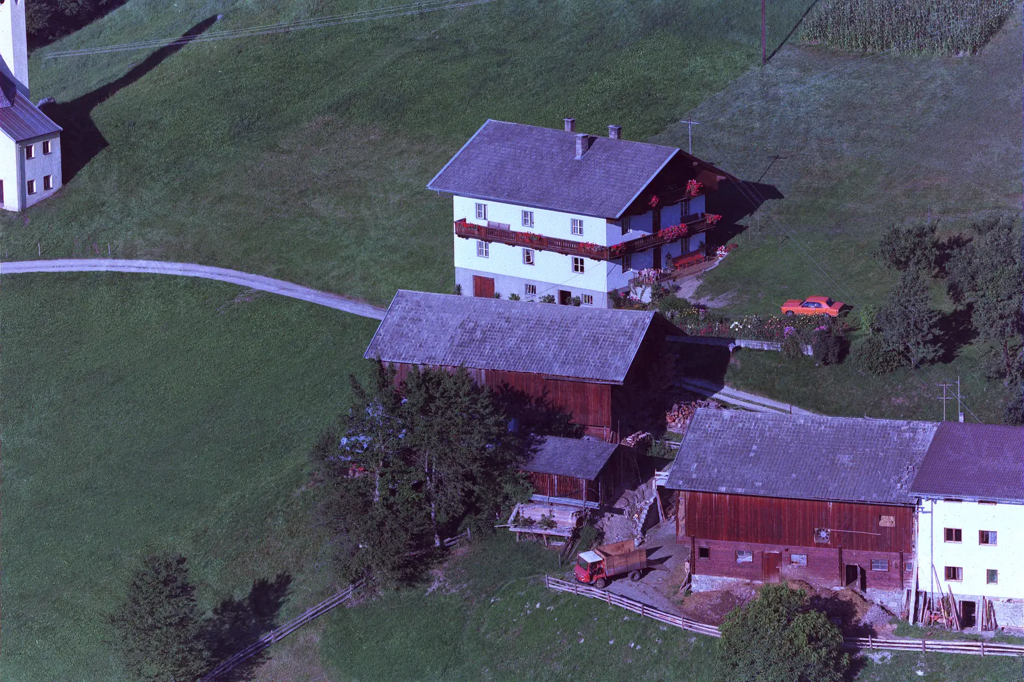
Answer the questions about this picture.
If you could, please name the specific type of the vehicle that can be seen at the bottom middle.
truck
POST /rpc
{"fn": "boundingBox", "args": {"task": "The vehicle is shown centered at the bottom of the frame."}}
[574,539,658,588]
